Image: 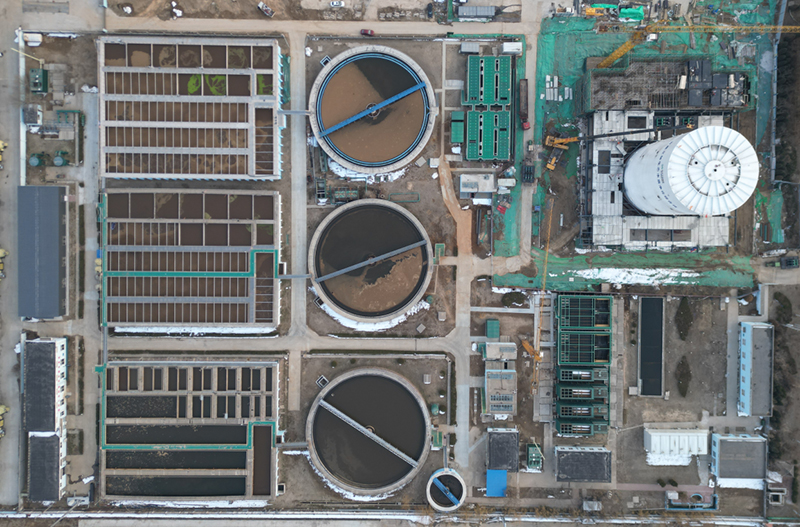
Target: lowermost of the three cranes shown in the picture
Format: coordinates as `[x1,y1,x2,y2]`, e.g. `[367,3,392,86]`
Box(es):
[513,197,556,397]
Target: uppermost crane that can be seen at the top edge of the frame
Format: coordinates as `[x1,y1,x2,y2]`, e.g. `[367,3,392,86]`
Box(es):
[590,22,800,70]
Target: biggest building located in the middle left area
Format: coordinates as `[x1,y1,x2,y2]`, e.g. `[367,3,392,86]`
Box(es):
[18,186,72,316]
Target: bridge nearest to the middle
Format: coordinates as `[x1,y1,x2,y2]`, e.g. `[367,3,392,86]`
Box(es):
[315,240,427,283]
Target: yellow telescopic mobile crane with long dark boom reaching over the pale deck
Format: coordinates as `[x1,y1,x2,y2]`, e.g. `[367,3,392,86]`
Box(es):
[543,123,693,175]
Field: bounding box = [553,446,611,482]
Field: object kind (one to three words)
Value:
house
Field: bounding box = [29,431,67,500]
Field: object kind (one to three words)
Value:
building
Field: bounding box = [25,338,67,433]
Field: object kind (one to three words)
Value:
building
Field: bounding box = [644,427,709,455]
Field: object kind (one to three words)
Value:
shed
